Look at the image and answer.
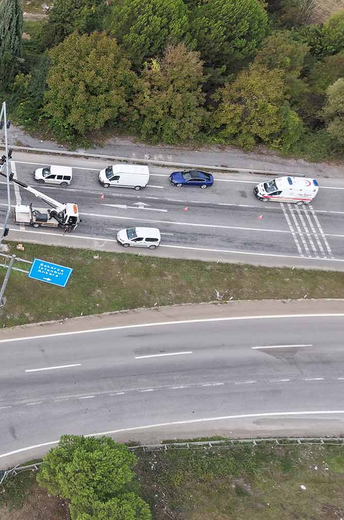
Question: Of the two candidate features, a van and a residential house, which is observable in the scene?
van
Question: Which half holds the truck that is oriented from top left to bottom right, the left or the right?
left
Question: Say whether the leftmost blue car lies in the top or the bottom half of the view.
top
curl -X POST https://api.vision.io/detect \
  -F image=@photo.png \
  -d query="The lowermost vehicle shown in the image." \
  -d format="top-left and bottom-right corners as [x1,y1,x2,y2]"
[116,225,163,249]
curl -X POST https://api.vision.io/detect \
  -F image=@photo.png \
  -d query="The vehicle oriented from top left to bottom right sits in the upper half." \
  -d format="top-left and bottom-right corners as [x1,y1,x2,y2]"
[0,155,79,236]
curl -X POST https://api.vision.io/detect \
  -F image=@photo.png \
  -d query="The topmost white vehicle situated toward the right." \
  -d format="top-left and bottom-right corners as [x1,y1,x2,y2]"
[253,176,319,206]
